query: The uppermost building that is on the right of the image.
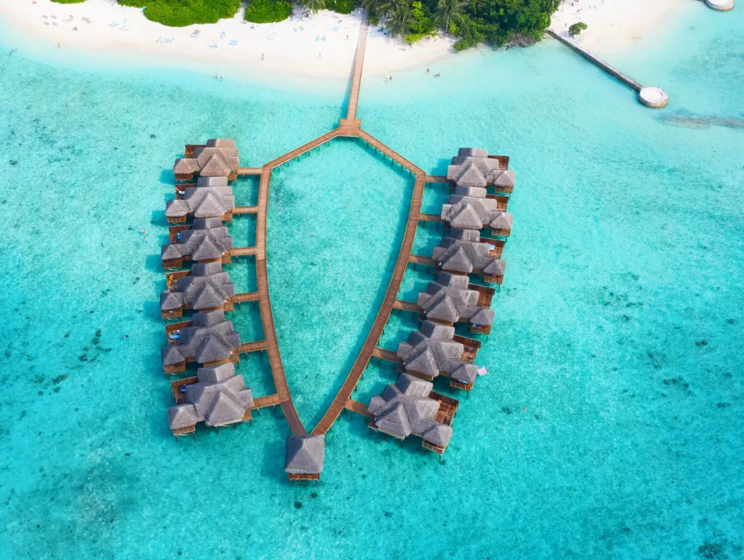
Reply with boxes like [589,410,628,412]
[443,147,514,205]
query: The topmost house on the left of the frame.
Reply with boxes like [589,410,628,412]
[173,137,243,189]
